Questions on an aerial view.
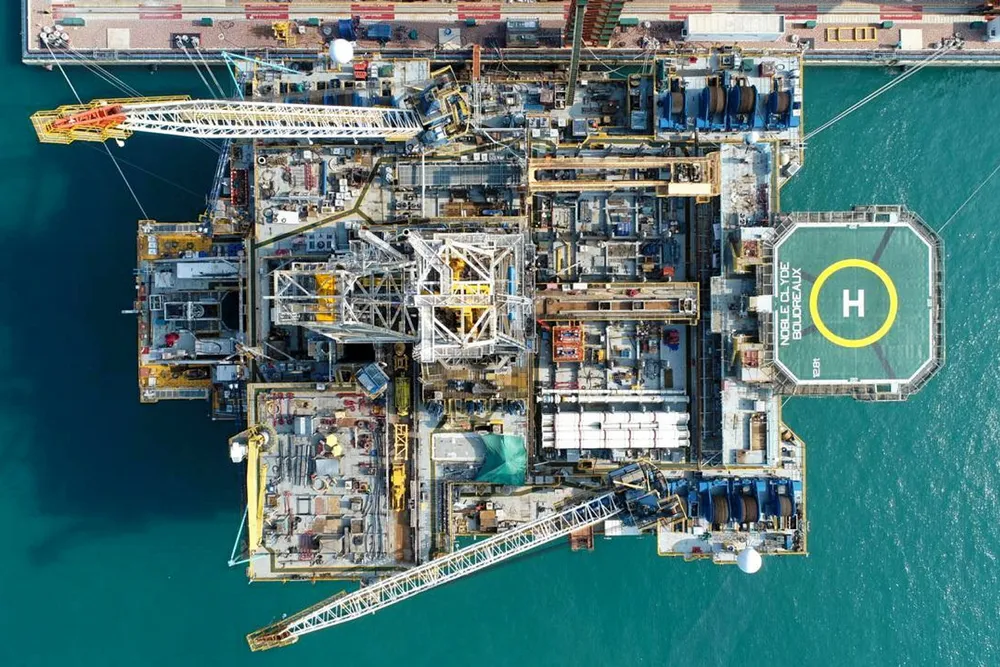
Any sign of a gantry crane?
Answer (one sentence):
Yes, the photo shows a gantry crane.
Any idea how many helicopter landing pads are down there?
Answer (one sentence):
The picture shows just 1 helicopter landing pad.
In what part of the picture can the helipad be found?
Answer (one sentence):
The helipad sits in the right section of the image.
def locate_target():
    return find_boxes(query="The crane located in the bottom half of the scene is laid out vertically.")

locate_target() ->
[226,424,278,553]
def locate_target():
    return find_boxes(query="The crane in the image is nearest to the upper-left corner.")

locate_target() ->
[35,60,477,147]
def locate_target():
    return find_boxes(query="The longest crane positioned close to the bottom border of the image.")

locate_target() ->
[249,448,689,655]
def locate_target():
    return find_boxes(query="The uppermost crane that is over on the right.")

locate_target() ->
[556,0,650,107]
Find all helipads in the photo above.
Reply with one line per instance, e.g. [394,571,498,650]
[749,204,944,403]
